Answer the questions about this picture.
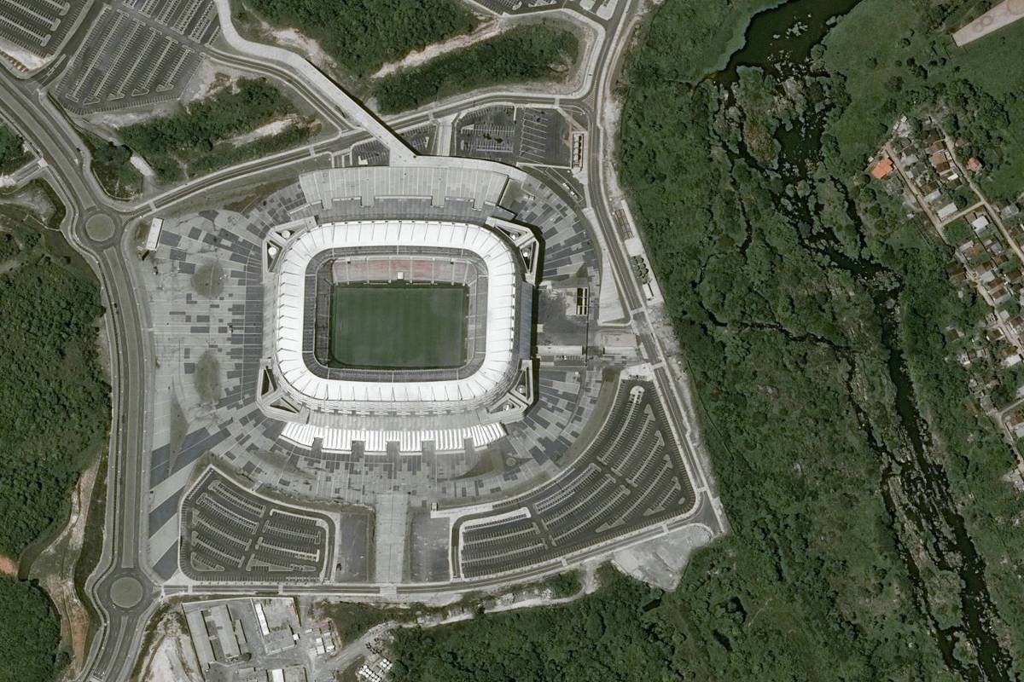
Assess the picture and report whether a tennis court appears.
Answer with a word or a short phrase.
No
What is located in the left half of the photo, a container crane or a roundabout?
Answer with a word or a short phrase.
roundabout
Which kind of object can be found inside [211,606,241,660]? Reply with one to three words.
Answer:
building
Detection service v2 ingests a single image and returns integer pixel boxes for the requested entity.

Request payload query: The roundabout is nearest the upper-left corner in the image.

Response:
[77,204,125,250]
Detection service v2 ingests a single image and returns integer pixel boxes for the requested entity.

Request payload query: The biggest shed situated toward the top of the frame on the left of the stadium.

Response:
[147,218,164,251]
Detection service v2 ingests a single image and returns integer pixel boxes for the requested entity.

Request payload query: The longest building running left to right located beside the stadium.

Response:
[538,345,582,357]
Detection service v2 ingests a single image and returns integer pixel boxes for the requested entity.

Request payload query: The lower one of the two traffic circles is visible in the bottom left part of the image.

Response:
[99,565,154,617]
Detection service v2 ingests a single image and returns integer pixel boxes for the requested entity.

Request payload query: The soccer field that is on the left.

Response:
[330,285,471,370]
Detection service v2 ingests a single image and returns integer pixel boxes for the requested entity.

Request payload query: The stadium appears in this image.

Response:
[257,166,541,456]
